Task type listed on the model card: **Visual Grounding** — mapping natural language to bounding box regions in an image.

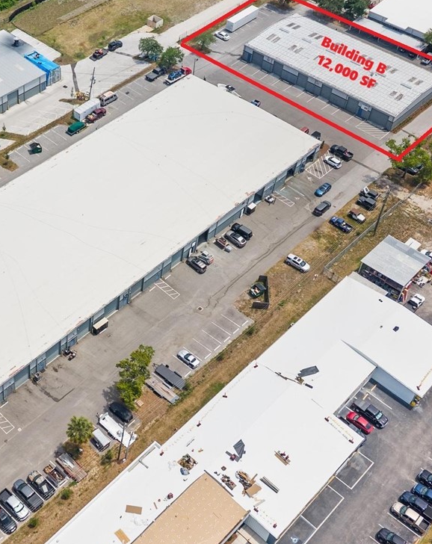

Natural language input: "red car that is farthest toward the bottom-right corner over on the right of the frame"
[343,411,372,434]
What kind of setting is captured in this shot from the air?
industrial area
